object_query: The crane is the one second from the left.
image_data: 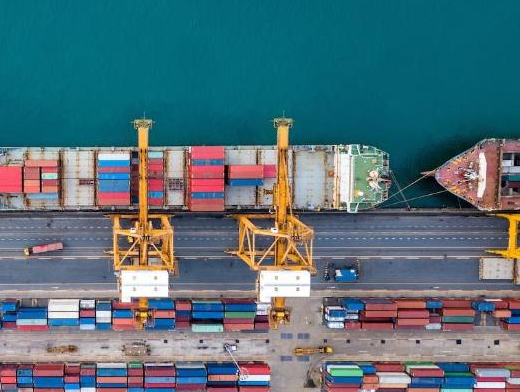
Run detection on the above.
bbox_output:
[227,111,319,329]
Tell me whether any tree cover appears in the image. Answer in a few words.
No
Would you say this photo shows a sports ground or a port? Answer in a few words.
port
